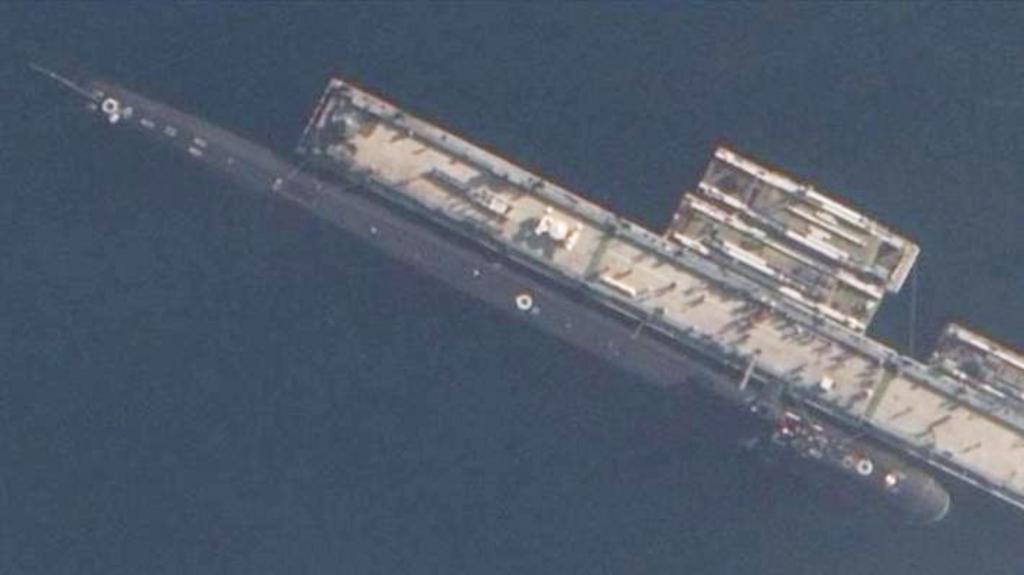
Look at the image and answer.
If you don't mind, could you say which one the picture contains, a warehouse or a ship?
ship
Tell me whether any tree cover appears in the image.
No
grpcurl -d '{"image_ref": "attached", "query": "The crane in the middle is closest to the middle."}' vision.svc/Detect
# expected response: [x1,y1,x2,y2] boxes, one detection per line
[529,207,581,255]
